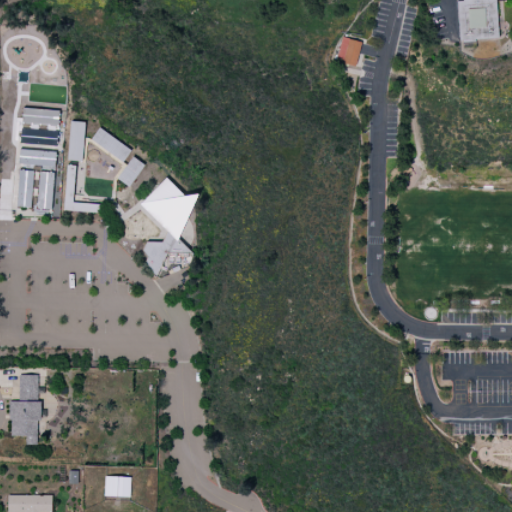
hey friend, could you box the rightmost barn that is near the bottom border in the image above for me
[104,477,132,499]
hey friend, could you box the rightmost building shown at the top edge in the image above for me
[459,0,500,42]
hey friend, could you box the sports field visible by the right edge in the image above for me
[396,190,512,312]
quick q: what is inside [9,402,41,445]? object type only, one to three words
house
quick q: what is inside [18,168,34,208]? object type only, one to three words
building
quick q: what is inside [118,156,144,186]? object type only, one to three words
building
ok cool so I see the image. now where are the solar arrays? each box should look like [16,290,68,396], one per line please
[22,127,58,136]
[21,135,58,144]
